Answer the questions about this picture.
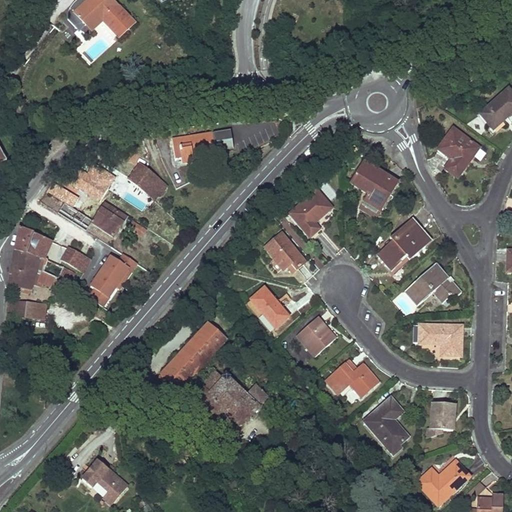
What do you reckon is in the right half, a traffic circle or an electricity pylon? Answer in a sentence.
Looking in the right half, you will find a traffic circle.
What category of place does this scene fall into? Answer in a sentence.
The area seen from above is a residential area.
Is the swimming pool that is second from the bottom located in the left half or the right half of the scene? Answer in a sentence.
It is on the left.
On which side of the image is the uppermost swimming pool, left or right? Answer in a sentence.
The uppermost swimming pool appears in the left half of the scene.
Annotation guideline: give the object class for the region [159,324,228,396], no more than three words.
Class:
building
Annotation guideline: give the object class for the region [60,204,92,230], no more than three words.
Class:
shed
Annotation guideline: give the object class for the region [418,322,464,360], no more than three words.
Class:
house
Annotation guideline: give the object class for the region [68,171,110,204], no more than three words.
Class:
barn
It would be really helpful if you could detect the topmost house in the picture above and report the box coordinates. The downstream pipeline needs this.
[68,0,137,40]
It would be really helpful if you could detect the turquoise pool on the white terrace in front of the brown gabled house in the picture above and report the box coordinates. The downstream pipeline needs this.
[124,192,146,211]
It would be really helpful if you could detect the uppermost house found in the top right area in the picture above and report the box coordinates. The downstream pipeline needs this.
[480,84,512,131]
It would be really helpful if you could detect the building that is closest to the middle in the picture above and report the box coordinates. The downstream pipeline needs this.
[264,230,305,275]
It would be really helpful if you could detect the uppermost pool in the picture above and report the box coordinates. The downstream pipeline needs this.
[84,38,108,61]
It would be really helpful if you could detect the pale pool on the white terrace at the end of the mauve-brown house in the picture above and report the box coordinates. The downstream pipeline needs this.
[396,294,414,314]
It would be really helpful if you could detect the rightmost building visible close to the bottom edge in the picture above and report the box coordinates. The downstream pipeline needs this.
[470,482,504,512]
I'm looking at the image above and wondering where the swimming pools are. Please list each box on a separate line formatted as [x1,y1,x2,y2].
[396,294,414,314]
[124,192,146,211]
[84,38,108,61]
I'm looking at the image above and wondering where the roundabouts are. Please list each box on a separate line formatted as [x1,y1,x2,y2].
[346,72,409,134]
